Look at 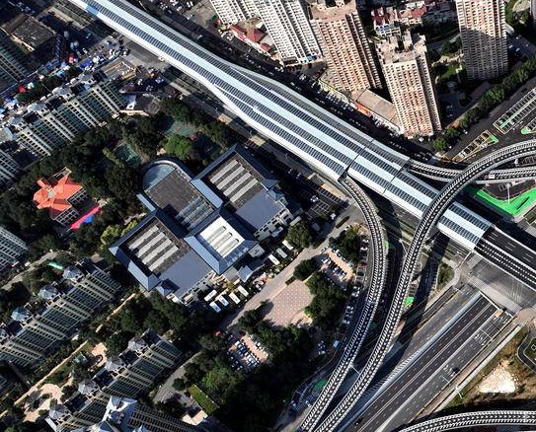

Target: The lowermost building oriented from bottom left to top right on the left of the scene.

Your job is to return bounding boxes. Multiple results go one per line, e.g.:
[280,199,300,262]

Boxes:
[56,322,181,424]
